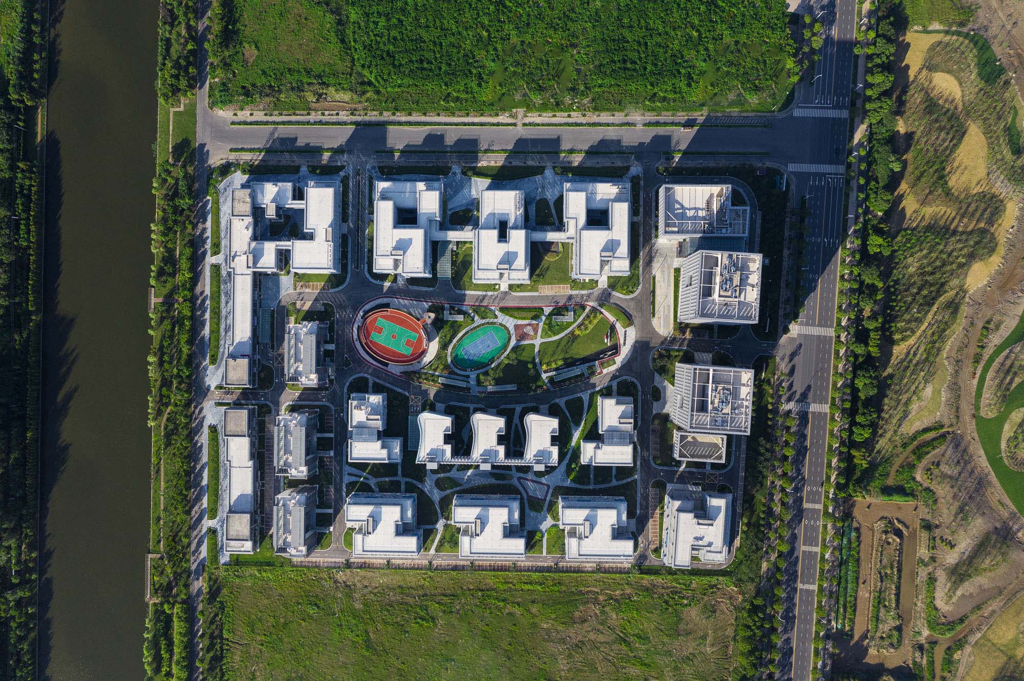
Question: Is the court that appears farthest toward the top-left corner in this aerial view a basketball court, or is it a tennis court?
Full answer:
The court that appears farthest toward the top-left corner appears to be a basketball court.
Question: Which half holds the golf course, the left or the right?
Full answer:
The golf course sits on the right side.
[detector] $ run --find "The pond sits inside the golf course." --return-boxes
[853,500,922,670]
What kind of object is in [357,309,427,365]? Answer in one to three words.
basketball court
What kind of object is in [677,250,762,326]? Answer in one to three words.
building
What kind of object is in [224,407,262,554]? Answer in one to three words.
building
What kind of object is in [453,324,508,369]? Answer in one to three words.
tennis court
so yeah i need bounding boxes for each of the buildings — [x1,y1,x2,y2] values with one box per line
[415,409,454,469]
[373,180,445,278]
[563,182,631,280]
[274,411,327,480]
[659,486,727,569]
[580,394,634,467]
[284,321,338,388]
[345,494,423,558]
[224,407,262,554]
[472,189,531,285]
[225,188,261,387]
[658,184,750,240]
[348,392,406,463]
[670,363,754,435]
[561,498,635,563]
[291,180,344,275]
[521,410,558,471]
[453,496,528,561]
[273,488,326,560]
[468,409,505,470]
[677,250,762,326]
